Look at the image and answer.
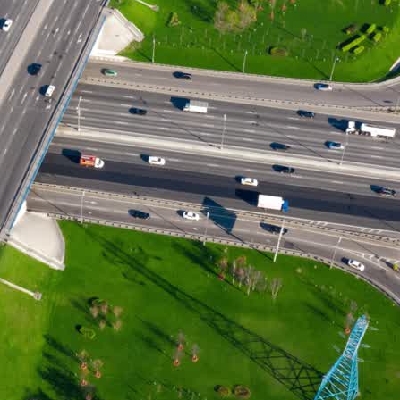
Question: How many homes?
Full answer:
Not a single home can be seen.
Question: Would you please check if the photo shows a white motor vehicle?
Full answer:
Yes, there is a white motor vehicle in the image.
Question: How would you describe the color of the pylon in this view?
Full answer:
In this view, the pylon is blue.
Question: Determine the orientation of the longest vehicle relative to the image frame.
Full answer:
The longest vehicle is laid out from left to right.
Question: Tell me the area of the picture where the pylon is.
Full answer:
You can find the pylon in the bottom right area of the picture.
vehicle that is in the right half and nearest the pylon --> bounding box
[345,258,365,272]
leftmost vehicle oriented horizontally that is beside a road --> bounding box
[79,152,105,166]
